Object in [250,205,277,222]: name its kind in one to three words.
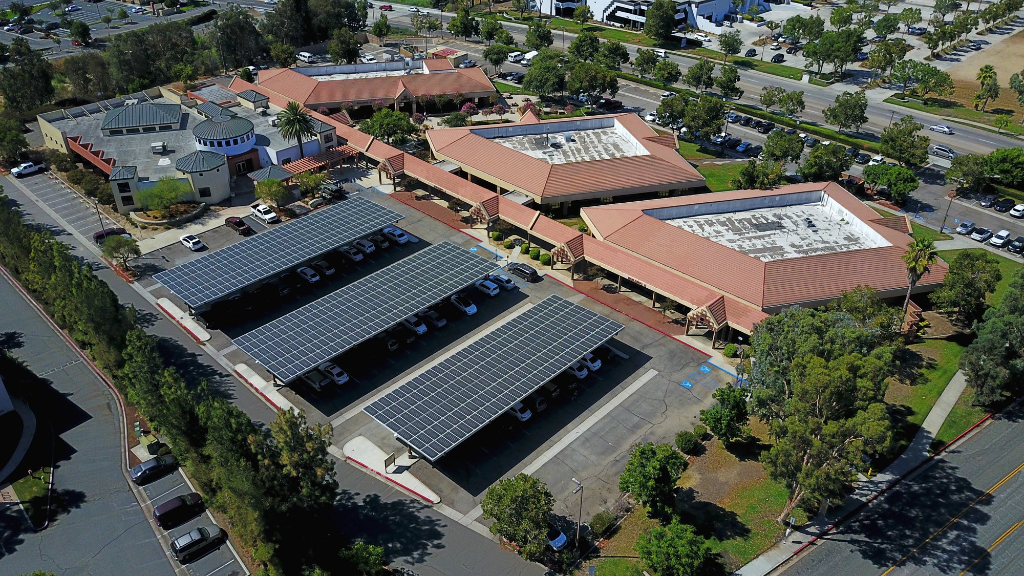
vehicle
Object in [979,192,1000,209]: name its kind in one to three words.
car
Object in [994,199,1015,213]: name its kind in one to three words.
car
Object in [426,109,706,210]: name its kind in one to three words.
building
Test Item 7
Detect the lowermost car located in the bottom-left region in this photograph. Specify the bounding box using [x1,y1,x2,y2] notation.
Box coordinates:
[168,529,228,565]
